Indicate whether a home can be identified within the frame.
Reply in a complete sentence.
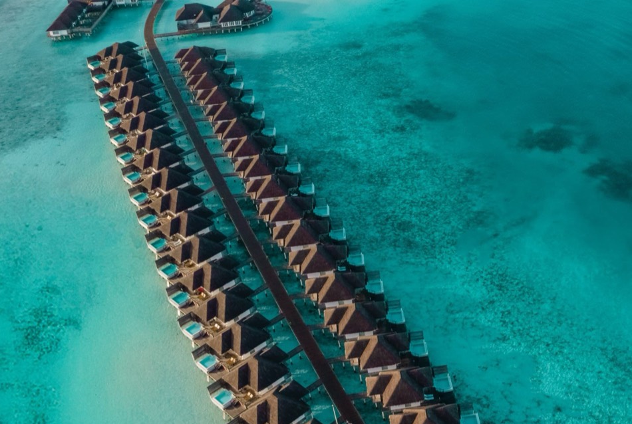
Yes, looking at the shot, I can spot a home.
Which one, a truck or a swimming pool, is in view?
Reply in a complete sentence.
The image shows a swimming pool.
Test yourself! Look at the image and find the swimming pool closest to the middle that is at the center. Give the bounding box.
[311,206,327,218]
